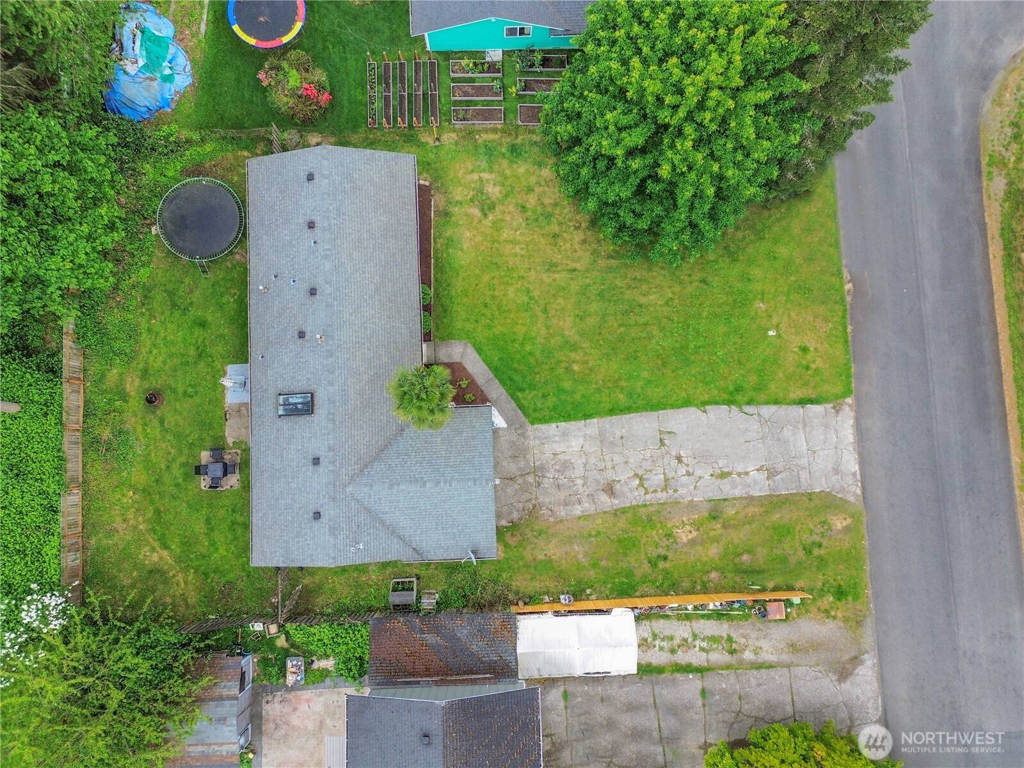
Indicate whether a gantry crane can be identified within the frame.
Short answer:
No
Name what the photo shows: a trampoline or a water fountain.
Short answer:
trampoline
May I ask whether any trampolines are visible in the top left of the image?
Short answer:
Yes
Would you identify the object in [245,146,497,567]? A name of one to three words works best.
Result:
house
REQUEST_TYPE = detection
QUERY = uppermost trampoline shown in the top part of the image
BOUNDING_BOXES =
[227,0,308,55]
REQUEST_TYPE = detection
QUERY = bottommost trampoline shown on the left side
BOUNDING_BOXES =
[157,176,245,264]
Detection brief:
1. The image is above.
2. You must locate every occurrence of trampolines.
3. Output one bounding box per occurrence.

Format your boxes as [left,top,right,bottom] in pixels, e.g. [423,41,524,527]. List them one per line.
[227,0,308,55]
[157,176,245,264]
